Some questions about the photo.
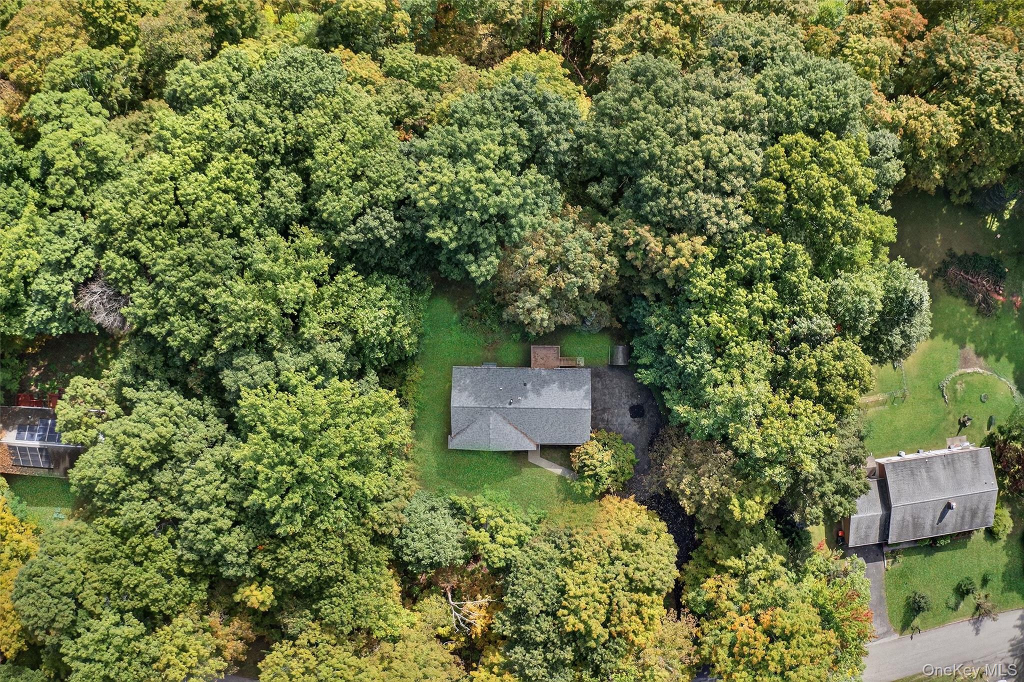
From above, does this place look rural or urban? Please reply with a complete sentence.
The land in this view is best described as rural.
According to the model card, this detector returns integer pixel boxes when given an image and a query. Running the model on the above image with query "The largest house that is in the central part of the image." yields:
[448,363,592,452]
